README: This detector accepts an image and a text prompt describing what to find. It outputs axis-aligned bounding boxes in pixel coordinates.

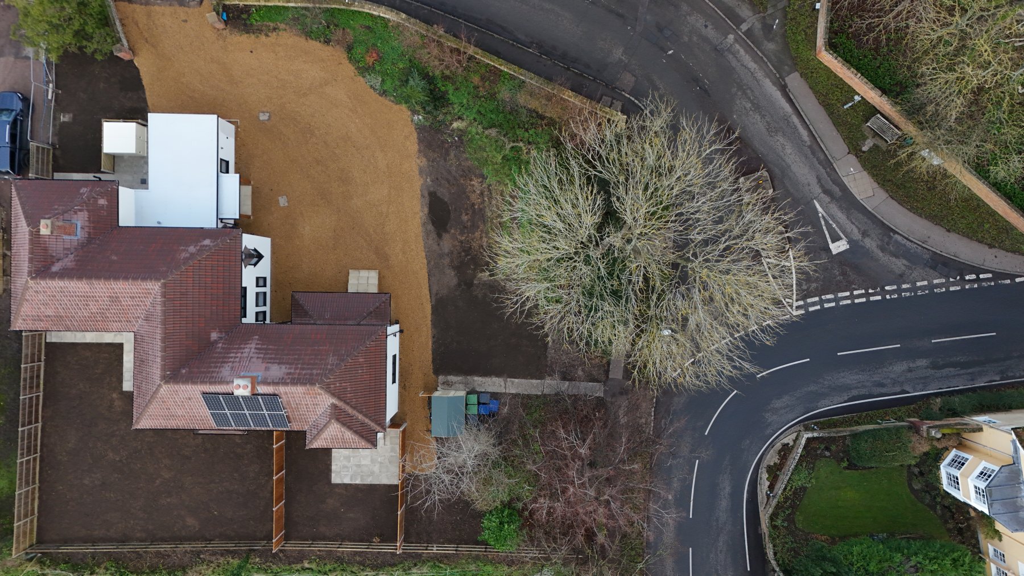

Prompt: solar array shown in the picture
[201,394,289,428]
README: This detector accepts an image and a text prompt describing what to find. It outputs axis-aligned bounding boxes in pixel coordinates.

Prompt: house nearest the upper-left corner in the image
[8,114,401,450]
